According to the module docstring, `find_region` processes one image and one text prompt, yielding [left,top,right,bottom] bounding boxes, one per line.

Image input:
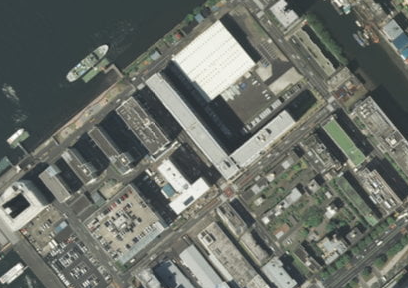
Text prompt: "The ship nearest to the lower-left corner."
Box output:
[0,263,27,283]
